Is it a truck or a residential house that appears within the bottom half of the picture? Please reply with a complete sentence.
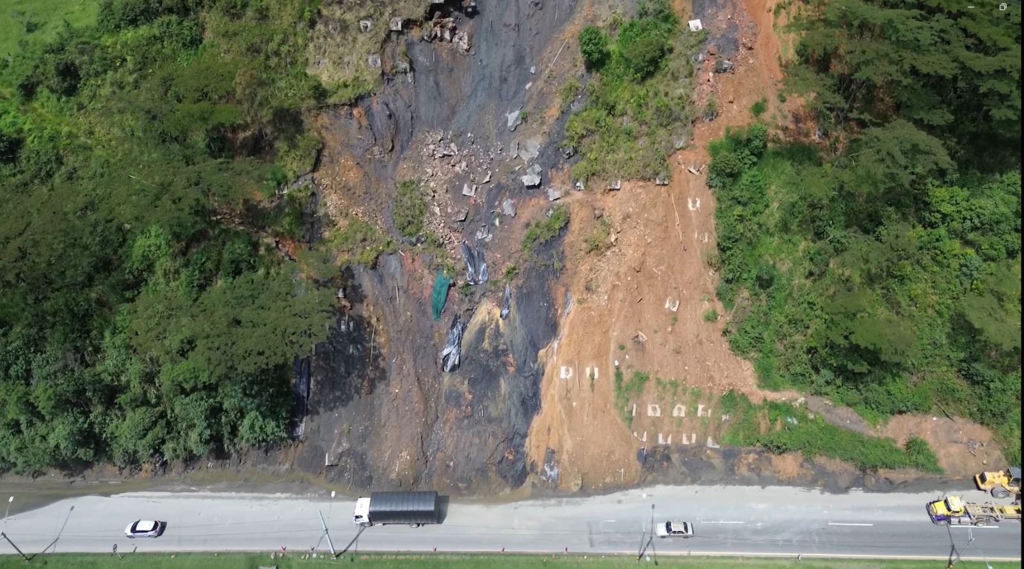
What appears within the bottom half of the picture is a truck.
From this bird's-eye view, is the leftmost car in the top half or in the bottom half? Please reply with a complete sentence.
The bottom half of the photo is where the leftmost car is.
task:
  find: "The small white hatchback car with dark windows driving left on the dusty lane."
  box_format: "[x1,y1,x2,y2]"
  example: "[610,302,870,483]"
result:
[123,518,163,538]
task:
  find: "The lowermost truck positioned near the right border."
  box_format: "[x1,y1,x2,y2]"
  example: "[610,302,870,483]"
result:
[927,493,1024,527]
